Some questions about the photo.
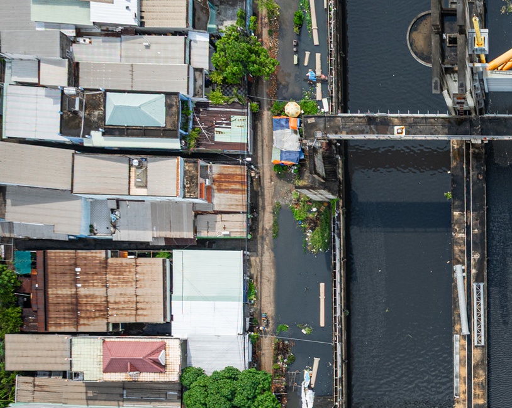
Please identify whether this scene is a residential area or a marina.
residential area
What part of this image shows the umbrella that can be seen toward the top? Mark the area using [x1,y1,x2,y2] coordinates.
[285,103,301,116]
